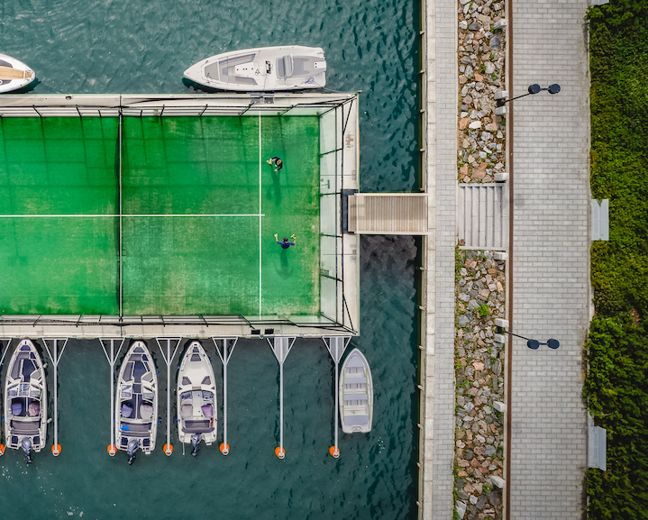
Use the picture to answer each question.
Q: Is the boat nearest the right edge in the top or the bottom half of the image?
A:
bottom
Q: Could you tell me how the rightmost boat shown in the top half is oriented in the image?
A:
horizontally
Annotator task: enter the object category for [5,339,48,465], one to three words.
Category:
boat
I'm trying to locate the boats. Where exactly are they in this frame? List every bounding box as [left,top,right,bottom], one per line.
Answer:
[115,340,159,466]
[177,341,218,457]
[183,45,326,92]
[5,339,48,465]
[0,54,36,93]
[338,348,373,433]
